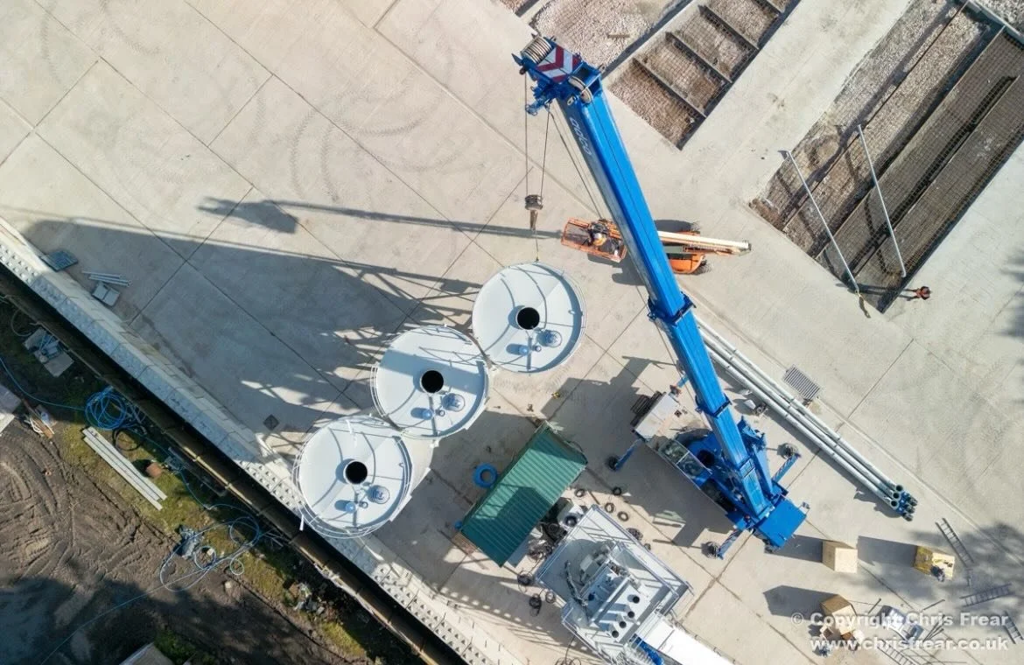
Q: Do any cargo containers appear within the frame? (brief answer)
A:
Yes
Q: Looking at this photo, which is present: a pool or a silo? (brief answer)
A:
silo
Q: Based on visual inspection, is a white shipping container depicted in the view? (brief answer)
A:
No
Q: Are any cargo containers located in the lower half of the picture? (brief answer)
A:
Yes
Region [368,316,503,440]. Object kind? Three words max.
silo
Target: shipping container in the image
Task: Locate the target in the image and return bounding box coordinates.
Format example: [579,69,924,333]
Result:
[456,421,592,571]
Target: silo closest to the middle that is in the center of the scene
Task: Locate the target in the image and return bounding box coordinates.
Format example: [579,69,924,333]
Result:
[471,248,586,378]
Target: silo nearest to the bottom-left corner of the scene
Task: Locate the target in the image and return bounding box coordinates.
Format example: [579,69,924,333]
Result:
[287,407,449,536]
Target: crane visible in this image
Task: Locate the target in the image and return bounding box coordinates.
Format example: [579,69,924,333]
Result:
[511,33,816,556]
